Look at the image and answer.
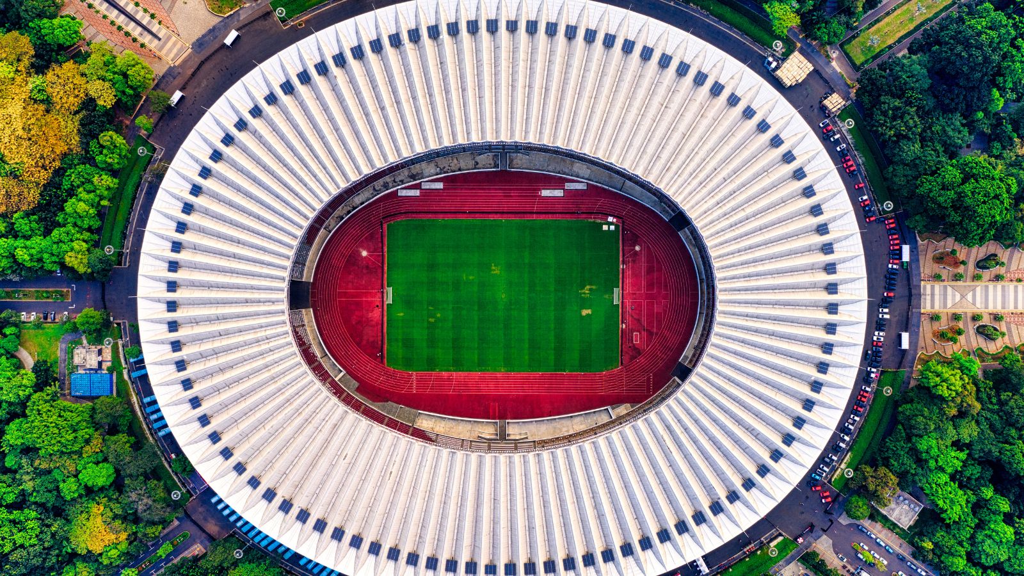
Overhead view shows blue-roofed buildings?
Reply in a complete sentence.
Yes, there's a blue-roofed building here.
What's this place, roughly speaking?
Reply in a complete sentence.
It's a sports ground.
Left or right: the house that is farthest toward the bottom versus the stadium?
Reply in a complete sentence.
Looking at the picture, you'll find the house that is farthest toward the bottom to the right of the stadium.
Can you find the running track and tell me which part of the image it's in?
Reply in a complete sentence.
The running track is in the center part of the image.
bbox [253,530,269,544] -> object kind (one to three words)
vehicle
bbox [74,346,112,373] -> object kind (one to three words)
building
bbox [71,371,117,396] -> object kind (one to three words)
building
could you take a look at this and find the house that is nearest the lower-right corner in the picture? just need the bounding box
[870,490,923,534]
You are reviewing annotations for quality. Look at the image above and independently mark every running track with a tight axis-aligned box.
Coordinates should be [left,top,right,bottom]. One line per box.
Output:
[310,170,699,420]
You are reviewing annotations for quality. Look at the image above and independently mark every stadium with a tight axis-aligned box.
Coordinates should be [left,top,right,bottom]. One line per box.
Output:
[129,0,868,576]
